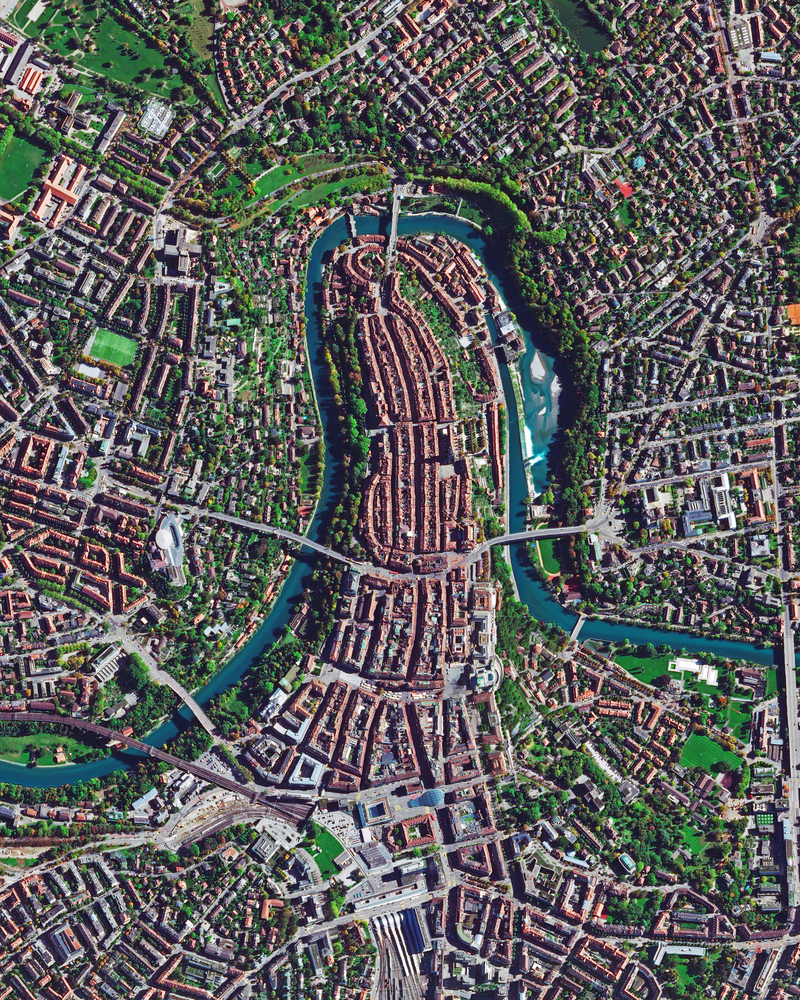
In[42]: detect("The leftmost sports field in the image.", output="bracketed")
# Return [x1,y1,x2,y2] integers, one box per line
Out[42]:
[0,135,46,199]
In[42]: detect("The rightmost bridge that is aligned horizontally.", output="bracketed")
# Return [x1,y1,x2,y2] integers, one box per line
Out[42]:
[465,521,594,563]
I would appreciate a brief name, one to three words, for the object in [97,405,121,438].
building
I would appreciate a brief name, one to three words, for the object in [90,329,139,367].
soccer field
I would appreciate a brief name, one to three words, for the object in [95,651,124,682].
shed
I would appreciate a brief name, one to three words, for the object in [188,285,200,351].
building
